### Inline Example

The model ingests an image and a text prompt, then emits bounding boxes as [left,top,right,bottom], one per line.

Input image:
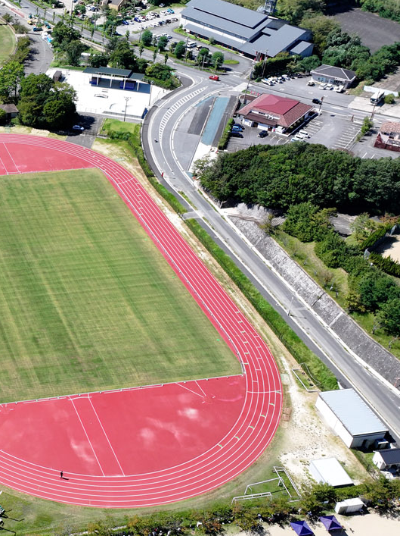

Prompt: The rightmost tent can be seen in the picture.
[318,515,349,536]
